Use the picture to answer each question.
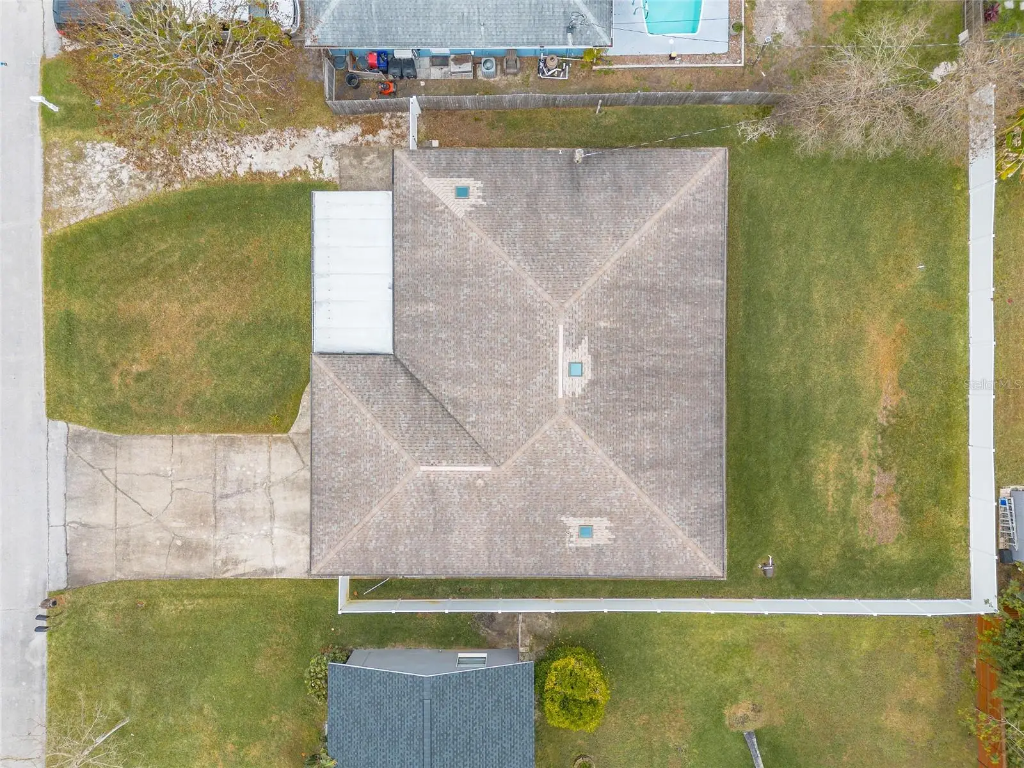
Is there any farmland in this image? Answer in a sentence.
No, the picture contains no farmland.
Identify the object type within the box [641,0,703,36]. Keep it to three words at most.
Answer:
swimming pool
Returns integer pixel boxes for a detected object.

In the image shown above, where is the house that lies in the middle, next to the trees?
[309,147,729,580]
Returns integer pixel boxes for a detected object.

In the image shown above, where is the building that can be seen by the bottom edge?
[323,650,533,768]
